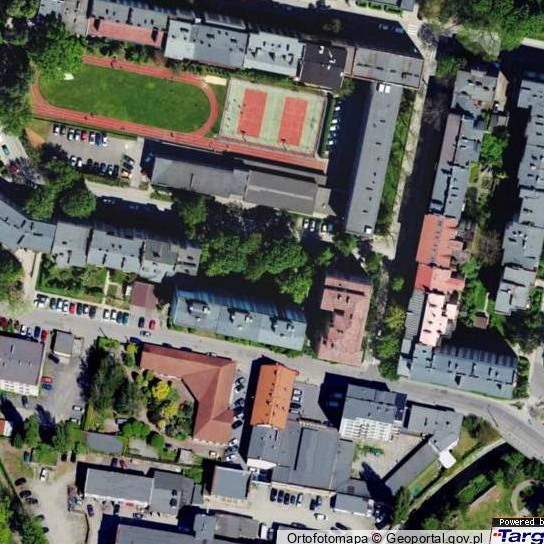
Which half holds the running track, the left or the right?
left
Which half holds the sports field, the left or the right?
left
